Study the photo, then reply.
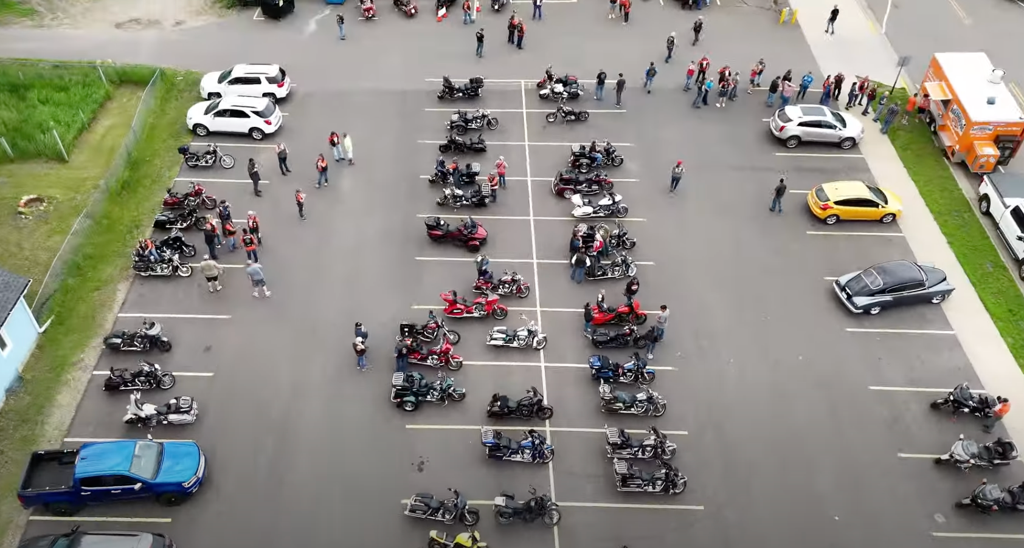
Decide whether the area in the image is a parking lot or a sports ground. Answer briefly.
parking lot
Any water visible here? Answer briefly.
No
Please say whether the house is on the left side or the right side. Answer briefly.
left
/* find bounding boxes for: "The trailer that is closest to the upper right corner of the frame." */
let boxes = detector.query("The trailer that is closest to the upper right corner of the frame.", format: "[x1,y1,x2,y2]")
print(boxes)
[917,51,1024,174]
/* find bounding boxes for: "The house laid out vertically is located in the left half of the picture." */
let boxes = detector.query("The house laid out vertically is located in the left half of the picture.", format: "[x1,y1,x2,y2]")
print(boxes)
[0,272,58,411]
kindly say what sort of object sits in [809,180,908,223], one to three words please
car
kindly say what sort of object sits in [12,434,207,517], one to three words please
truck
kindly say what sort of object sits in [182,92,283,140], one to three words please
car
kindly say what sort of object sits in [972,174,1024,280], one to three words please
truck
